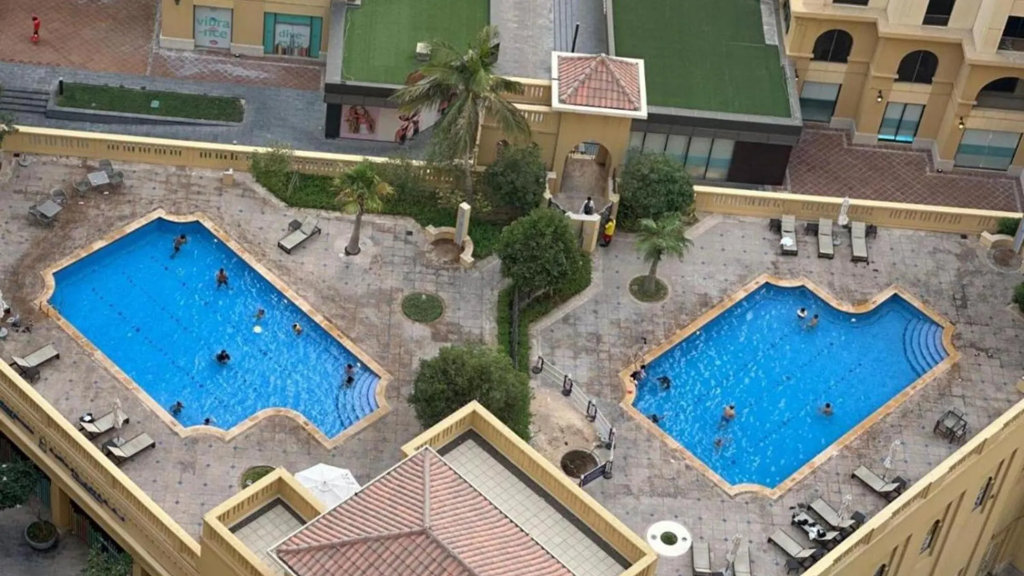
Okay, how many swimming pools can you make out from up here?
two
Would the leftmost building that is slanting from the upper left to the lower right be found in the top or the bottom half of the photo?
bottom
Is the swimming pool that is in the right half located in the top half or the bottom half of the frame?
bottom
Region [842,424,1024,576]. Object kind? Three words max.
building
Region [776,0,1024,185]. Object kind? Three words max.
building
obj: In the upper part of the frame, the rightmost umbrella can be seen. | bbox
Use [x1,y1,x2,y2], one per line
[834,197,849,247]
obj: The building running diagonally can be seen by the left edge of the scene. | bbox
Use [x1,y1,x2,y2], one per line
[0,397,185,576]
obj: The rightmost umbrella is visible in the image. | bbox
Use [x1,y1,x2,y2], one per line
[879,439,901,483]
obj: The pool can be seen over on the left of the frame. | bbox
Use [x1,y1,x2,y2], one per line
[38,206,391,447]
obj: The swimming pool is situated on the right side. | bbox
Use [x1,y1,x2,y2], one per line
[622,271,960,496]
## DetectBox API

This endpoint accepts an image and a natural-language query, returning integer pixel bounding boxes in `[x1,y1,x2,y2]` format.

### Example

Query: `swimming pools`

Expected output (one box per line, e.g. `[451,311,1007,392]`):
[38,206,391,447]
[622,271,960,496]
